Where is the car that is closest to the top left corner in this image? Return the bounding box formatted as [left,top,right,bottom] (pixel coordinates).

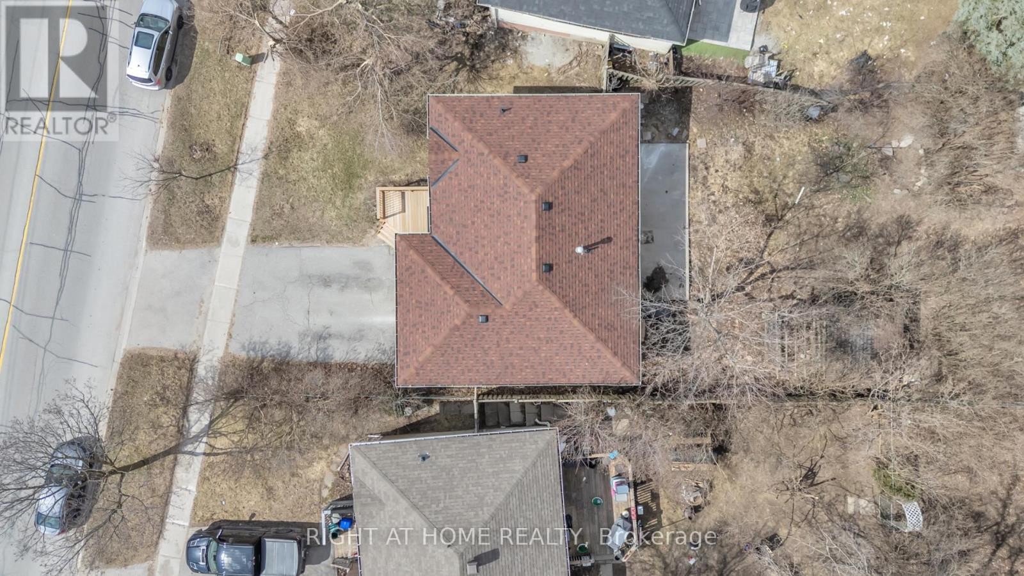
[124,0,183,92]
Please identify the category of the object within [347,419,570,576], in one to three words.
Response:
house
